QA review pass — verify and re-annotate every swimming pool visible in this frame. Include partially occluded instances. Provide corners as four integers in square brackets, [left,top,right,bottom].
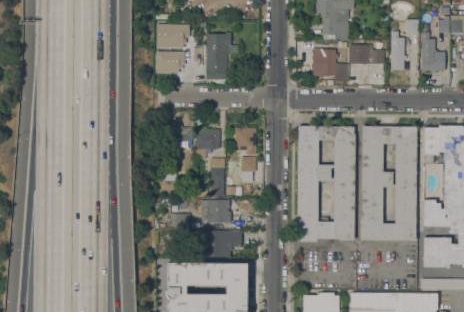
[428,174,438,192]
[422,13,433,24]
